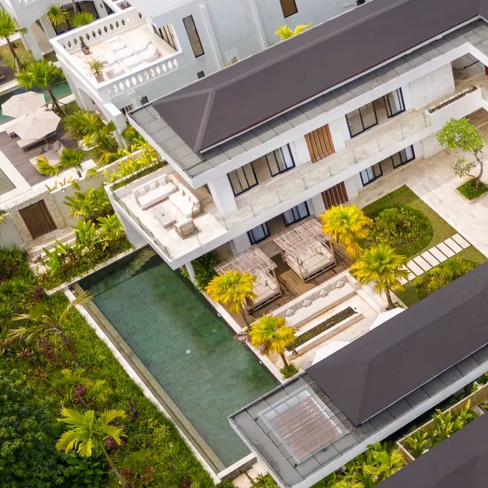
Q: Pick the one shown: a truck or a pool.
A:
pool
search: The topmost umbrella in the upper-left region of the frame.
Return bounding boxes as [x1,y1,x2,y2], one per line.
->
[0,91,50,121]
